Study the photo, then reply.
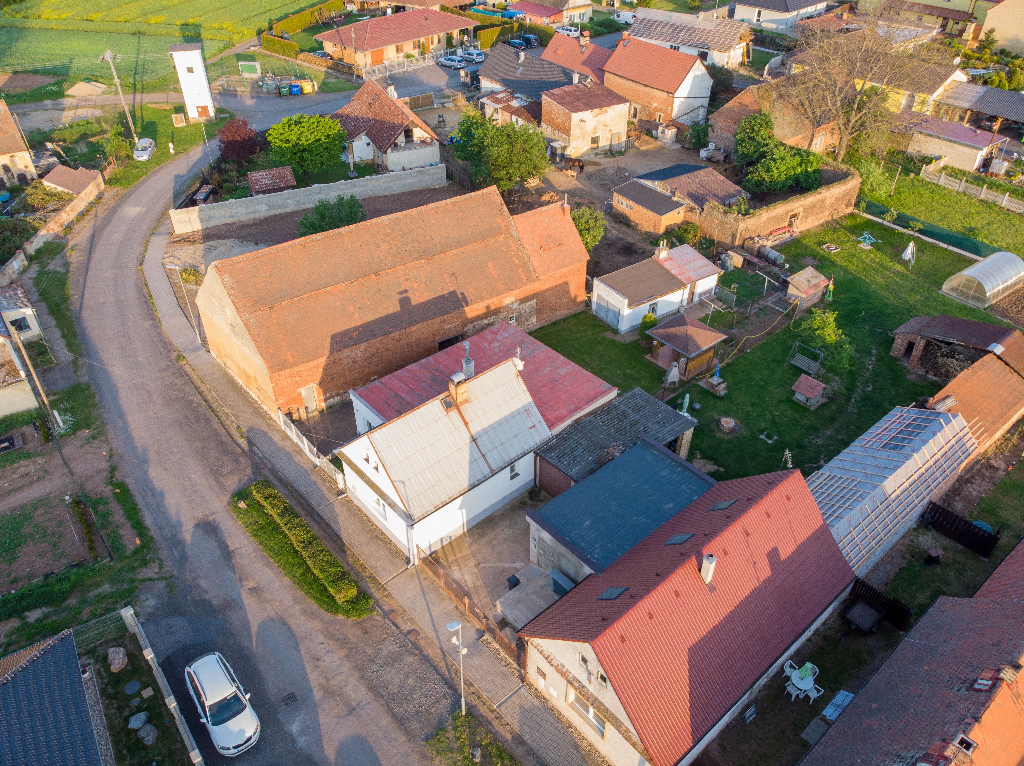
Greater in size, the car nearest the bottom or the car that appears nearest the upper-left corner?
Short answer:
the car nearest the bottom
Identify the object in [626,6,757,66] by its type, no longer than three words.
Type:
house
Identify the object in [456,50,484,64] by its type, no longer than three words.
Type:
car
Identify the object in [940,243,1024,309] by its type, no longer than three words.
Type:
greenhouse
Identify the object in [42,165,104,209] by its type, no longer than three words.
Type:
shed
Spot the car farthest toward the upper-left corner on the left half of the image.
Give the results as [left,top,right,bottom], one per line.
[130,136,157,160]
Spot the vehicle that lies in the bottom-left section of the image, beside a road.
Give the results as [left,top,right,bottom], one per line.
[178,646,260,756]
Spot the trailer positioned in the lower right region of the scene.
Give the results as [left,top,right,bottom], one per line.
[843,589,894,642]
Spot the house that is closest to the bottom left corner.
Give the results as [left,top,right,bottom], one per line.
[0,627,104,766]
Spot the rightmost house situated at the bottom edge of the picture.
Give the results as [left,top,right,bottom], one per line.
[790,592,1024,766]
